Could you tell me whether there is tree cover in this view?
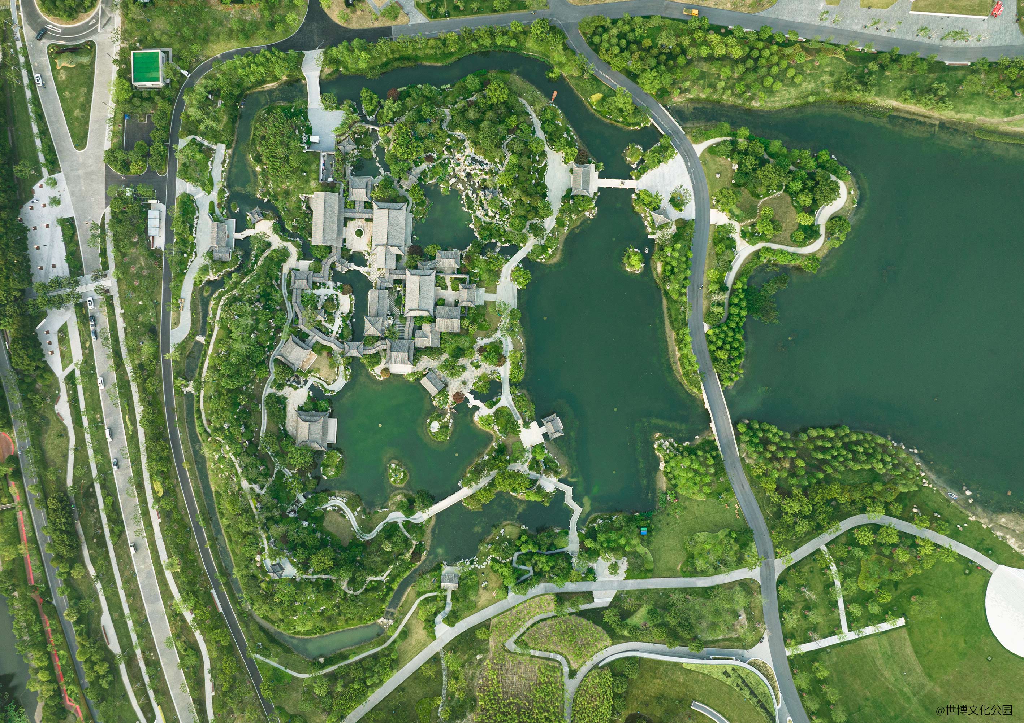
Yes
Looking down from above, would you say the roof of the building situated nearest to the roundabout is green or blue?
green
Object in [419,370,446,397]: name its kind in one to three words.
building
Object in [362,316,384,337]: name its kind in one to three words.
building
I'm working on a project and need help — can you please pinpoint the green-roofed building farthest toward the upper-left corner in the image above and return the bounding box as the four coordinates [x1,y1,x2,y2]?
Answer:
[131,50,174,89]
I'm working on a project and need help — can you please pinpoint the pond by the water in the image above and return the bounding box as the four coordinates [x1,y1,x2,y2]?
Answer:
[288,130,519,514]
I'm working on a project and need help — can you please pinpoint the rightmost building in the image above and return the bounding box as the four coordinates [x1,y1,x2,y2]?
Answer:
[985,563,1024,659]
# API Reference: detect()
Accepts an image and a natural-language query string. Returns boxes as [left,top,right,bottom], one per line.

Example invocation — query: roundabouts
[20,0,117,43]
